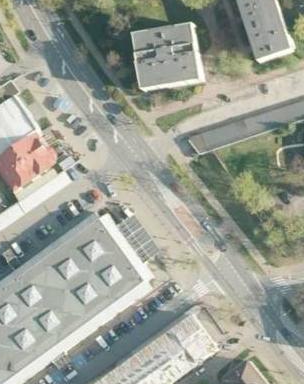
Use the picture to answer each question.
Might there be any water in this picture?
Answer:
No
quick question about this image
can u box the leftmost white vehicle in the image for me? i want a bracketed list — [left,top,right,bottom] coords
[10,242,24,257]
